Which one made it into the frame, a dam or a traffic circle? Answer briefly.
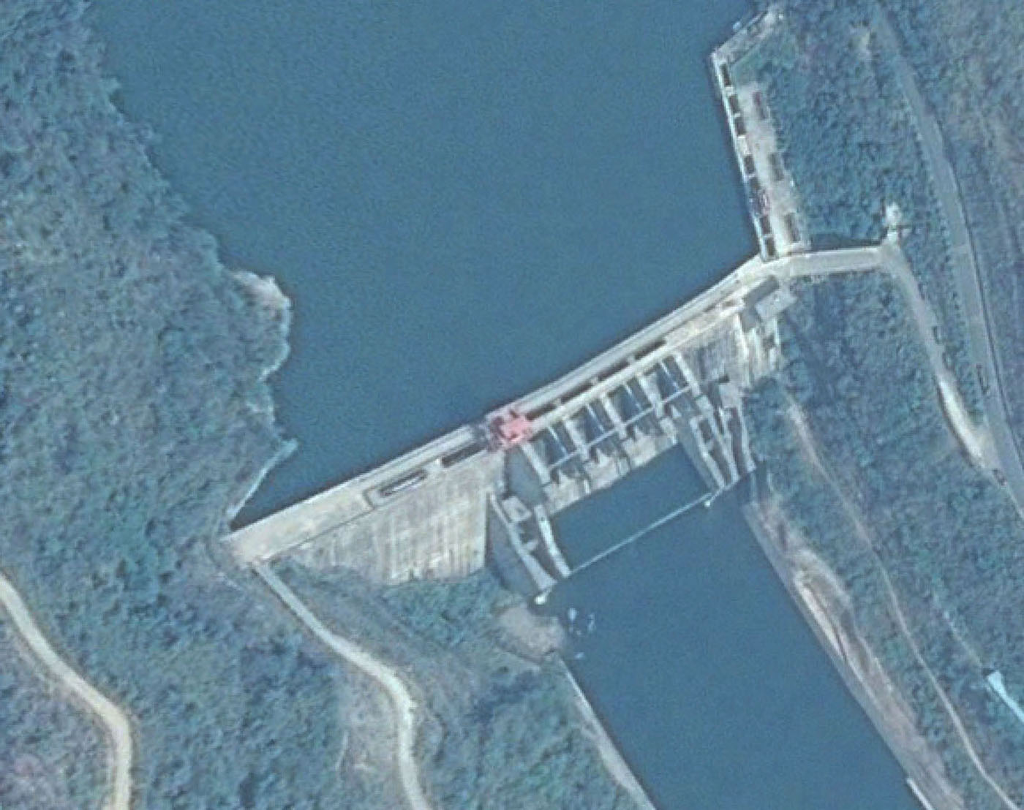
dam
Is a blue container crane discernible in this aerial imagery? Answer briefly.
No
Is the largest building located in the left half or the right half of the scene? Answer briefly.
right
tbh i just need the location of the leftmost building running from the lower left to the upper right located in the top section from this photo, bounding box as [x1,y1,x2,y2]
[744,282,800,331]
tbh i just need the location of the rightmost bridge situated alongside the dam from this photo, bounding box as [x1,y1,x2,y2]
[765,246,882,277]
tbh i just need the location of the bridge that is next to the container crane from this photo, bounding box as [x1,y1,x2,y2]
[532,312,746,442]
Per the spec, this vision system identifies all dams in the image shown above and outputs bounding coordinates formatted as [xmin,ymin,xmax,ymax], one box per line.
[233,256,783,605]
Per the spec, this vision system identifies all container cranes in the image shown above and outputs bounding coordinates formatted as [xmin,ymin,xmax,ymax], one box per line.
[486,404,538,455]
